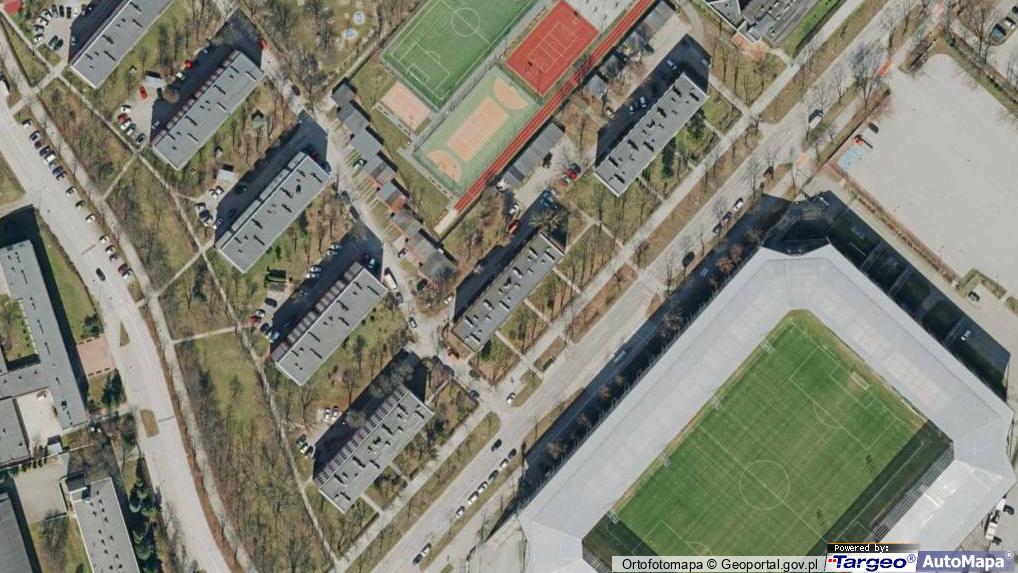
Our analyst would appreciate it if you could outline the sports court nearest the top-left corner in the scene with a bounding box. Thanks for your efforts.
[380,81,431,131]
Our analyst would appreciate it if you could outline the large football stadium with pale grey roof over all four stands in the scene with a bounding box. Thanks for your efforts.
[512,235,1018,573]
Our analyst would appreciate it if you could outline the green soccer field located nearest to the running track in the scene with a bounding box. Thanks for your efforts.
[382,0,535,108]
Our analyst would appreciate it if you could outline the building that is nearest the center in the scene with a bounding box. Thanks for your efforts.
[452,230,565,351]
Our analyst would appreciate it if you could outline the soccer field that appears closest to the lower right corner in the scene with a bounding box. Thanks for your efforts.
[586,309,941,573]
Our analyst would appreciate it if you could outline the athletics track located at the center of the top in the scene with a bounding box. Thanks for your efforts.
[453,0,651,216]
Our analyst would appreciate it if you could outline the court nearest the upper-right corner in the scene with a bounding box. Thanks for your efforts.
[506,0,600,96]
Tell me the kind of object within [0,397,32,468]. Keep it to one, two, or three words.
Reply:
building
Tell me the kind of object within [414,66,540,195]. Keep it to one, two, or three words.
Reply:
sports court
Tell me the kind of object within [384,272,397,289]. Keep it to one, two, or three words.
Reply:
vehicle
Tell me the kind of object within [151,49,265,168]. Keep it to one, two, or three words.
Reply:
building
